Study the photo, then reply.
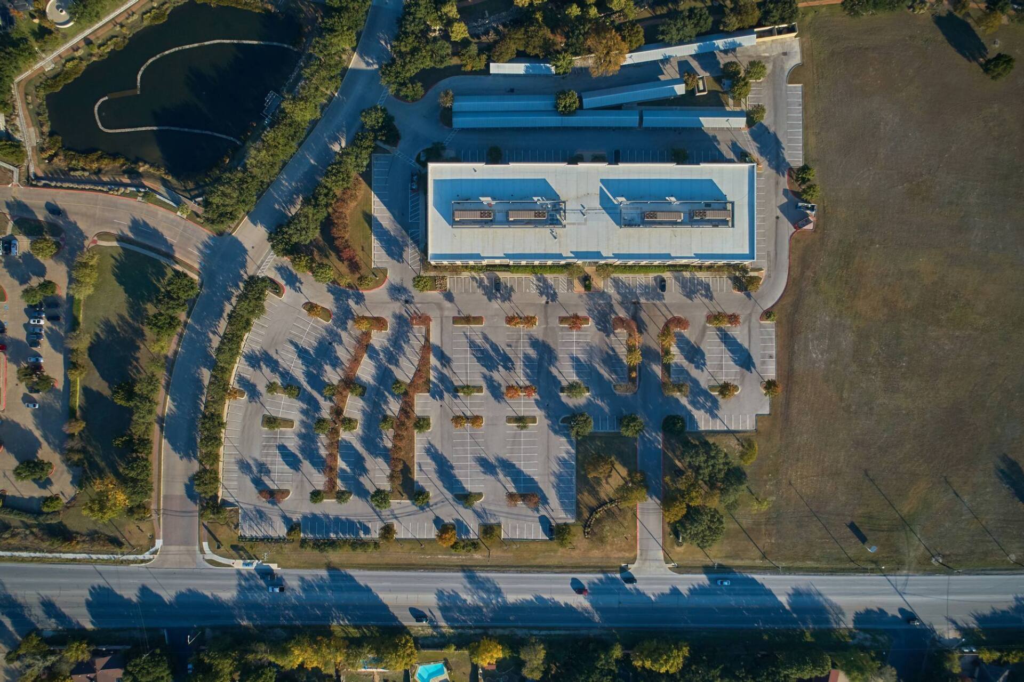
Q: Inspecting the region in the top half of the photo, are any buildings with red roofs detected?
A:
No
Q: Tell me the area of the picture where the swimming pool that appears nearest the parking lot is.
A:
bottom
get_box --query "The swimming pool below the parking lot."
[413,657,451,682]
